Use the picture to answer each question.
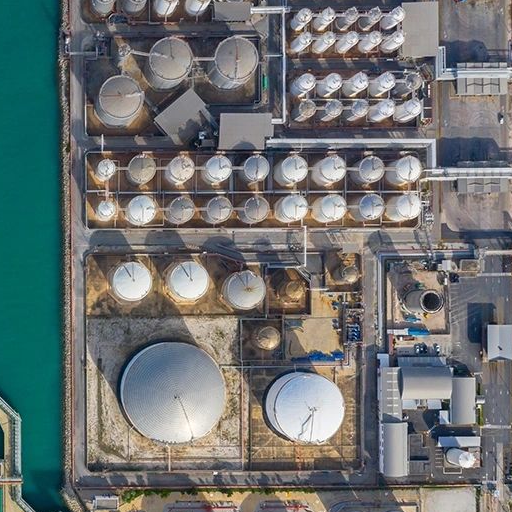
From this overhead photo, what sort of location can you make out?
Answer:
industrial area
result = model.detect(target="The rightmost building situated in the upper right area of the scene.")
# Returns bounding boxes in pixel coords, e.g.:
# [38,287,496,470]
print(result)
[396,2,438,60]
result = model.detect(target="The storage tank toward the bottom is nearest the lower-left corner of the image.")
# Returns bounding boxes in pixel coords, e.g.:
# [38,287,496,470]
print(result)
[117,338,226,446]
